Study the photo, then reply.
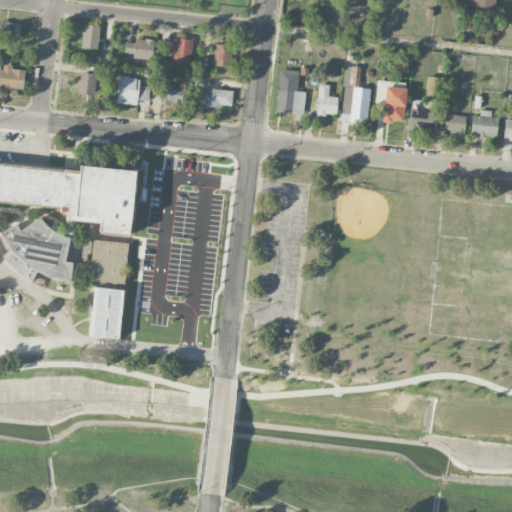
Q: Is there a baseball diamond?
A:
Yes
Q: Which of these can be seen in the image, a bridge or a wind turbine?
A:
bridge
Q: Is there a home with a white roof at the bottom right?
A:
No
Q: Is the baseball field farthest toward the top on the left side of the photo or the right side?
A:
right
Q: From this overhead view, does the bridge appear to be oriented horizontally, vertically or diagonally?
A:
vertically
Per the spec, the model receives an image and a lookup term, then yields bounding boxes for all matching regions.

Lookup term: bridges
[197,364,239,498]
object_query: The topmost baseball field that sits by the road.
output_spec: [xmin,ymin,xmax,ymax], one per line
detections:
[330,186,418,268]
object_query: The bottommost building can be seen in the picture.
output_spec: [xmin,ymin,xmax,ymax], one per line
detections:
[90,286,126,340]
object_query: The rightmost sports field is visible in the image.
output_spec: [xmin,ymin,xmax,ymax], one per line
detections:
[430,199,512,343]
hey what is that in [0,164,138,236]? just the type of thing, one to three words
building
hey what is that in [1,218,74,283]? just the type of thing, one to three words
building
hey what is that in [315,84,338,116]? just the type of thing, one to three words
house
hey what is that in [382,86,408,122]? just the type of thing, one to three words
house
